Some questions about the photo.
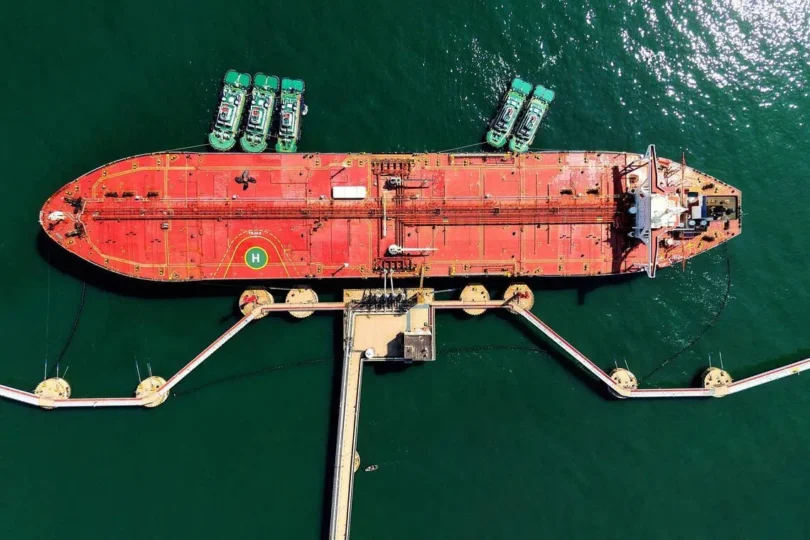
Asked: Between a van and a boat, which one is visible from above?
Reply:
boat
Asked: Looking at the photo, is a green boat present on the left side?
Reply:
Yes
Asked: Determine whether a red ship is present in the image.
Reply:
Yes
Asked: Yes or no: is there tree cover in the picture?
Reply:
No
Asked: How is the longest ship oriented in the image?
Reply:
from side to side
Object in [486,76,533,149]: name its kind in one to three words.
boat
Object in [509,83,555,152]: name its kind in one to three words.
boat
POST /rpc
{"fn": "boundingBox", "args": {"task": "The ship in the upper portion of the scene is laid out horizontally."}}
[39,142,742,280]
